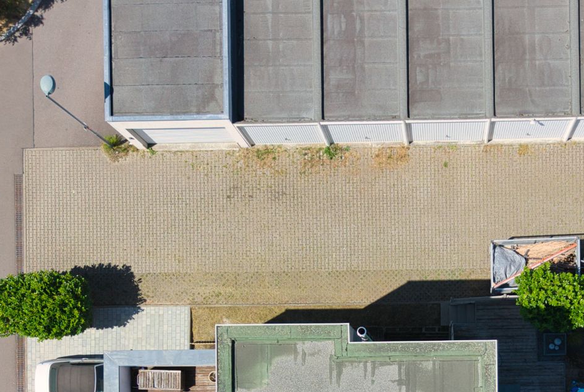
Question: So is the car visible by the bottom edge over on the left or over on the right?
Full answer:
The car visible by the bottom edge sits on the left side.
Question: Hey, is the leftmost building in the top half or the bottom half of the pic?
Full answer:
It is in the top half that the leftmost building appears.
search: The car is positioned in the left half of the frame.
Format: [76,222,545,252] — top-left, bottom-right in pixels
[35,349,104,392]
